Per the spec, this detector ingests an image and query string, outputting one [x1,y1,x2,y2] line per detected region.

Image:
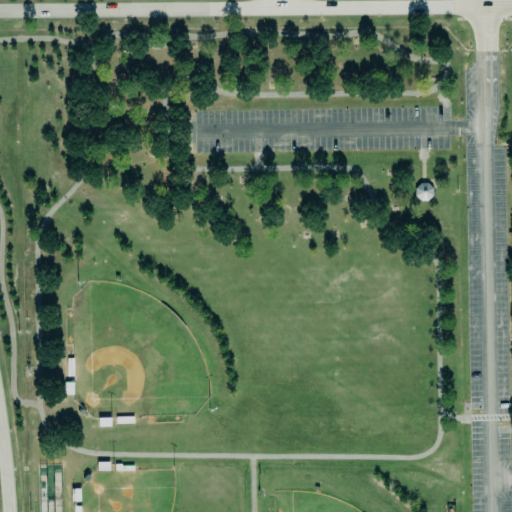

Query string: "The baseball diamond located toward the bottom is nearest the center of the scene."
[66,280,210,423]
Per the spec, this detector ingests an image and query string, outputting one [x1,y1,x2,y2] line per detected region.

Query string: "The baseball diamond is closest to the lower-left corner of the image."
[84,468,176,512]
